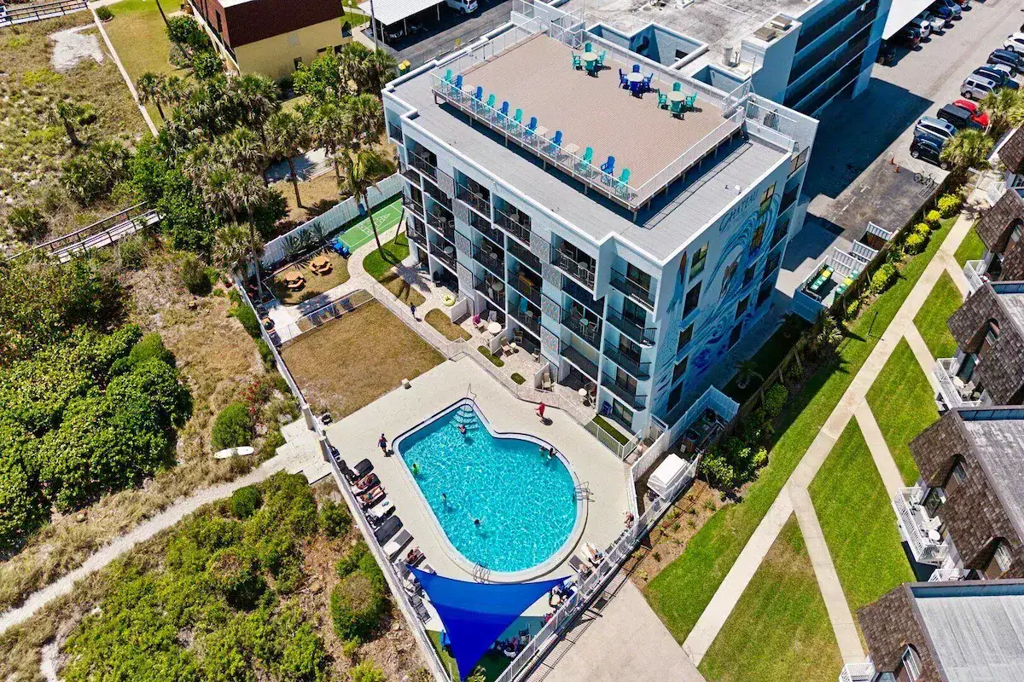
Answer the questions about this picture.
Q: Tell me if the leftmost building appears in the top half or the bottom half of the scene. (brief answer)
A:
top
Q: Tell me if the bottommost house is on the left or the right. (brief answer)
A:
right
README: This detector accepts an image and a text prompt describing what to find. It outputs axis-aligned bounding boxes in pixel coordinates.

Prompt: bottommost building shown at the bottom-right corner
[831,580,1024,682]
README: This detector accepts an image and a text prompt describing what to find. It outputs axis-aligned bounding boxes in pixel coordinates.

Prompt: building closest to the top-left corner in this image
[192,0,348,77]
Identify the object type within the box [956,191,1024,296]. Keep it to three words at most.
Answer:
house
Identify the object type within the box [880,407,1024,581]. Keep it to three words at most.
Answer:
house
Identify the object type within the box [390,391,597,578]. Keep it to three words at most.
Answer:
swimming pool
